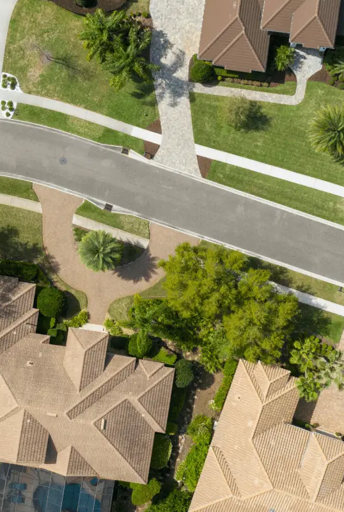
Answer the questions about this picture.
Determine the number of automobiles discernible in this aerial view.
0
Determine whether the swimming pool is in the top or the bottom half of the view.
bottom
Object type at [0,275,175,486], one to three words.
house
